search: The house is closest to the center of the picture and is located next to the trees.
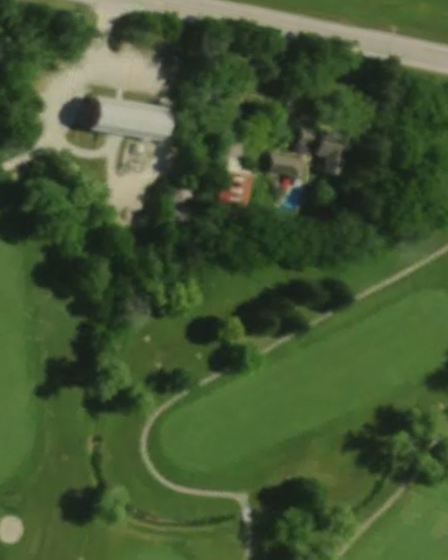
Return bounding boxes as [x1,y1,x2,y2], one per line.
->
[270,149,314,182]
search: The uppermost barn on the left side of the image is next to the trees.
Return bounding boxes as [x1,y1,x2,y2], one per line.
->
[96,95,173,140]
